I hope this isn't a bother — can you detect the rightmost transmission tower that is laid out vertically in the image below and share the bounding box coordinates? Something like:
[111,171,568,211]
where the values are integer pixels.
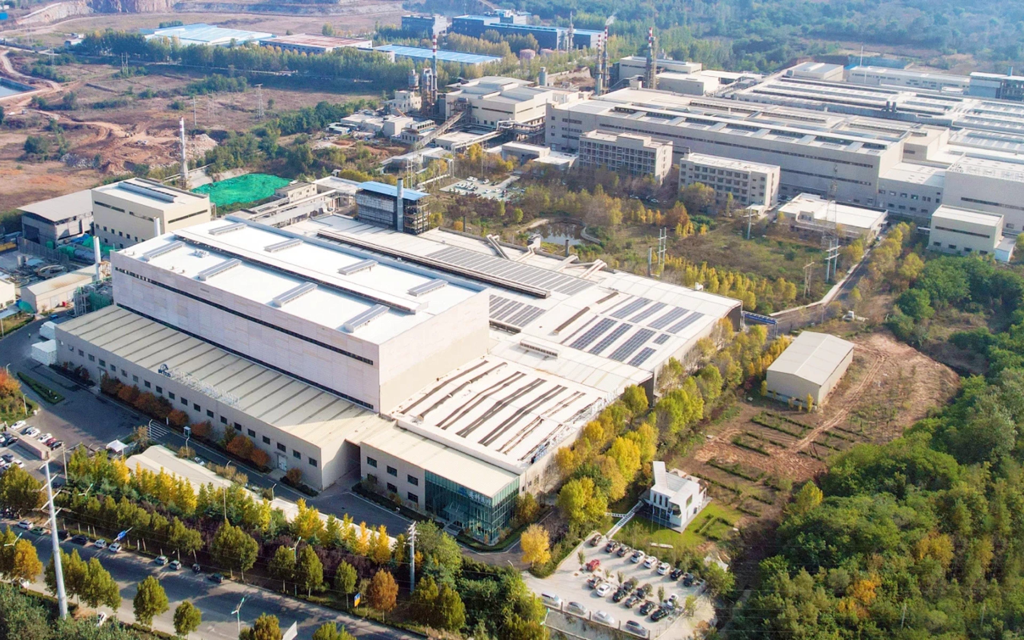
[254,83,266,118]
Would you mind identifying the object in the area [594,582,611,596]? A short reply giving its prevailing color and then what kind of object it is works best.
white car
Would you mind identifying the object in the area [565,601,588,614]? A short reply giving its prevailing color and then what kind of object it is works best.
gray vehicle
